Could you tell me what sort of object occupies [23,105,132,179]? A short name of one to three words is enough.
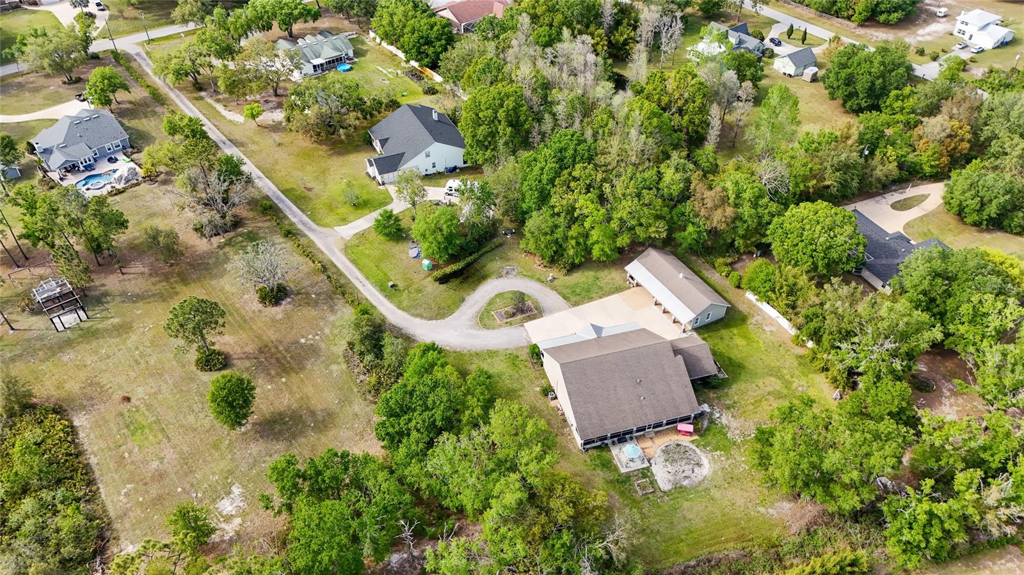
house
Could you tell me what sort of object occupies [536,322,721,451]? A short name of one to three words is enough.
house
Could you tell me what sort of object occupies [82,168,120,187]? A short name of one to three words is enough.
swimming pool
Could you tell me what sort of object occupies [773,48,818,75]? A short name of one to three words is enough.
barn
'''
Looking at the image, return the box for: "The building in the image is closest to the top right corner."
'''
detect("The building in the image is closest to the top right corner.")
[953,8,1023,47]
